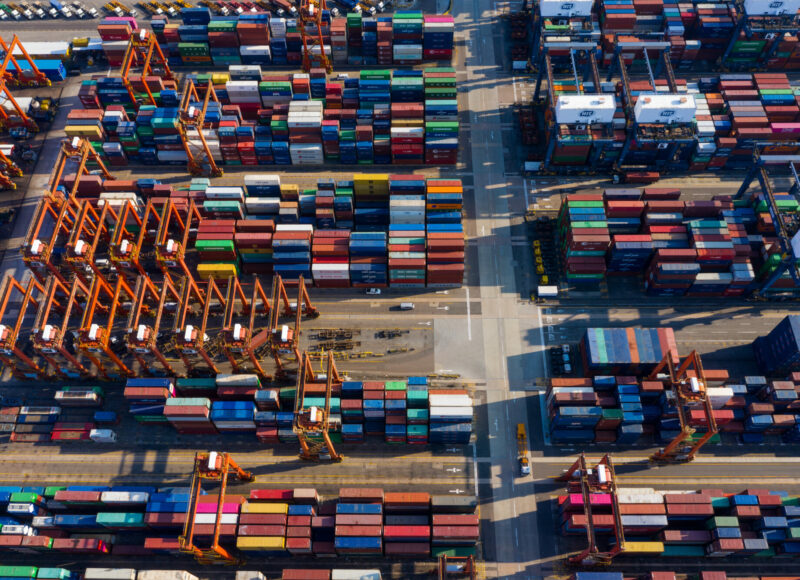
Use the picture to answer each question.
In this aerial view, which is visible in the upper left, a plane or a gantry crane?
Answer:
gantry crane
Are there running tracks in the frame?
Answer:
No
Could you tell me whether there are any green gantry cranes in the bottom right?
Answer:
No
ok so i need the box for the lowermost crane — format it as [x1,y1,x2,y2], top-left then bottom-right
[430,556,478,580]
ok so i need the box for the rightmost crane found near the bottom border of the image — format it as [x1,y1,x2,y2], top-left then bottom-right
[557,454,624,570]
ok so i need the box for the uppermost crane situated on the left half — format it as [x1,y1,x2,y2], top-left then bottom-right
[298,0,334,67]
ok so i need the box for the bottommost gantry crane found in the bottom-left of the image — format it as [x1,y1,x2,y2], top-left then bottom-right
[177,450,252,567]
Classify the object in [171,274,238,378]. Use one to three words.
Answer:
container crane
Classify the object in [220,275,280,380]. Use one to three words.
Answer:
container crane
